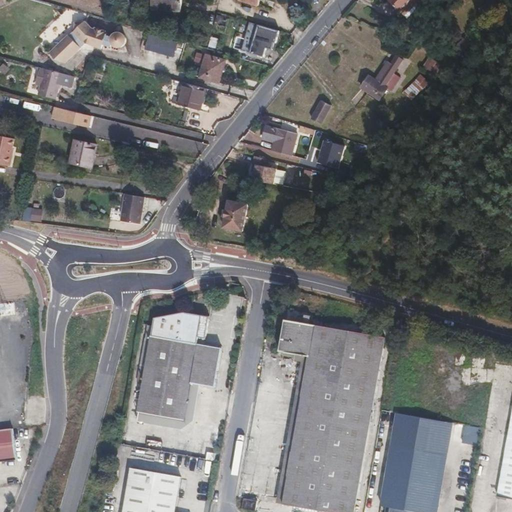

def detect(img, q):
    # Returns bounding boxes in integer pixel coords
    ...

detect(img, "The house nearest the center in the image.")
[220,200,248,232]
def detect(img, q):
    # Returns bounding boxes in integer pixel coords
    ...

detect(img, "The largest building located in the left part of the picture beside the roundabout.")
[137,312,222,429]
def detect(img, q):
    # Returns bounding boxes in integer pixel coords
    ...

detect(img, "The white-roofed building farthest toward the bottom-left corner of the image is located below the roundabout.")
[121,468,182,512]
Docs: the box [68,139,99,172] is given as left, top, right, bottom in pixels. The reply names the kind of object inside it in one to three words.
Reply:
house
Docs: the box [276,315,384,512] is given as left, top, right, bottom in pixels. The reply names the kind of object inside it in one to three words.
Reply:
building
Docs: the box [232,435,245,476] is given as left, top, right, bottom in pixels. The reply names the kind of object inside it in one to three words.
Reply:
vehicle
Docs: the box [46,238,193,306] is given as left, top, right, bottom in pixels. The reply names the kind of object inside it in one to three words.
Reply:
roundabout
